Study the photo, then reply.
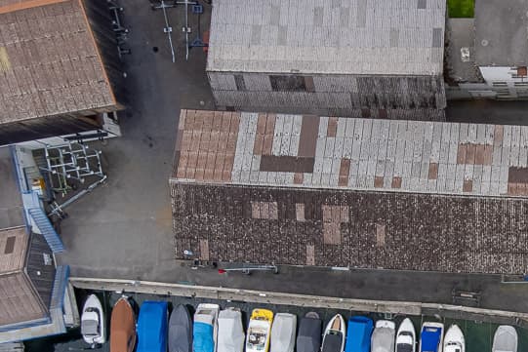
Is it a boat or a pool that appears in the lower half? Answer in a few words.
boat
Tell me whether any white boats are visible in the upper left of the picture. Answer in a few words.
No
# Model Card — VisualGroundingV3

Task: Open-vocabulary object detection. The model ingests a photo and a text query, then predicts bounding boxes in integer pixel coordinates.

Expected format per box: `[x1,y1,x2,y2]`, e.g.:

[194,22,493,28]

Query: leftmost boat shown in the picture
[81,294,109,350]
